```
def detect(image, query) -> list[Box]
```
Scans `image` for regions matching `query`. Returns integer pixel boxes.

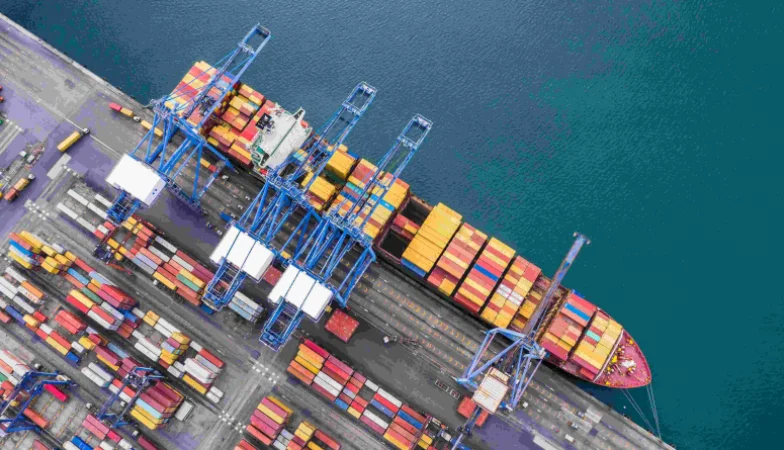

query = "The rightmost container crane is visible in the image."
[447,231,594,450]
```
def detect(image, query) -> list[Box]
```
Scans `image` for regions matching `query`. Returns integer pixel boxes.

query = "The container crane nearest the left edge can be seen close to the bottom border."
[0,364,79,446]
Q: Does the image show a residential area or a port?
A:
port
